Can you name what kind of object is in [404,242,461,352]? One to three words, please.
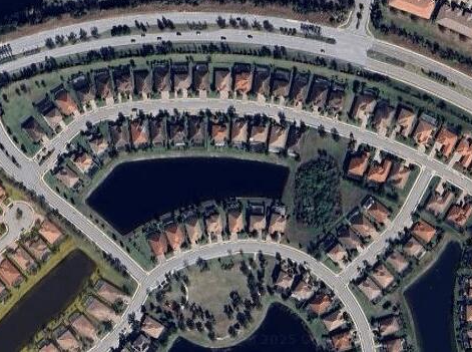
pond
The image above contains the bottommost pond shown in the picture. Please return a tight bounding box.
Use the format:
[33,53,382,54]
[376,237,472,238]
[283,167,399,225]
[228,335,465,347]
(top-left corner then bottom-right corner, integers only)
[167,301,318,352]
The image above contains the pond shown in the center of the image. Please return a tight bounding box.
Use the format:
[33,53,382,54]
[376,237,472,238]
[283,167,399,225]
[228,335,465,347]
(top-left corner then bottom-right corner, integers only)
[87,156,291,236]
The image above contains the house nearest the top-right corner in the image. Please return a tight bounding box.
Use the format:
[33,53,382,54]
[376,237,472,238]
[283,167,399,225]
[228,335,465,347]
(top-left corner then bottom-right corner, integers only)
[435,0,472,37]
